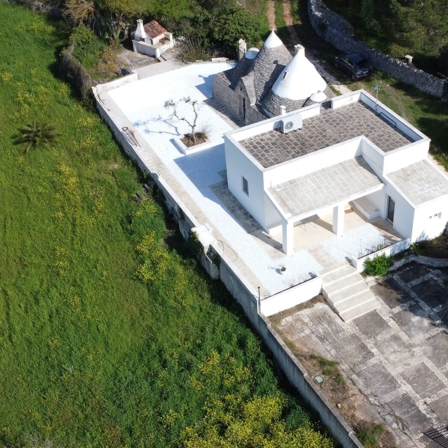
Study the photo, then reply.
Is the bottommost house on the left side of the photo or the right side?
right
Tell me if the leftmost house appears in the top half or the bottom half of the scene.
top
